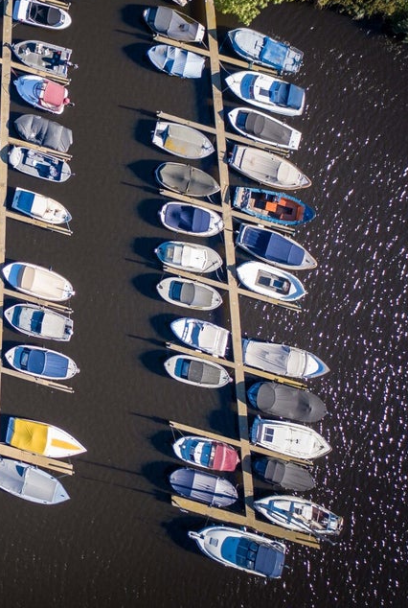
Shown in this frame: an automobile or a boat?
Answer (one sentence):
There is a boat in the scene.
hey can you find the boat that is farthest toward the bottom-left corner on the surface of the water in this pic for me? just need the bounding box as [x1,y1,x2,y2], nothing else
[0,456,71,505]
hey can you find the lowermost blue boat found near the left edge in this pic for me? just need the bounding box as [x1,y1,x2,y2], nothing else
[1,344,78,384]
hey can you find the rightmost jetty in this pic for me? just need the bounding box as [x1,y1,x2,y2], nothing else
[148,0,326,553]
